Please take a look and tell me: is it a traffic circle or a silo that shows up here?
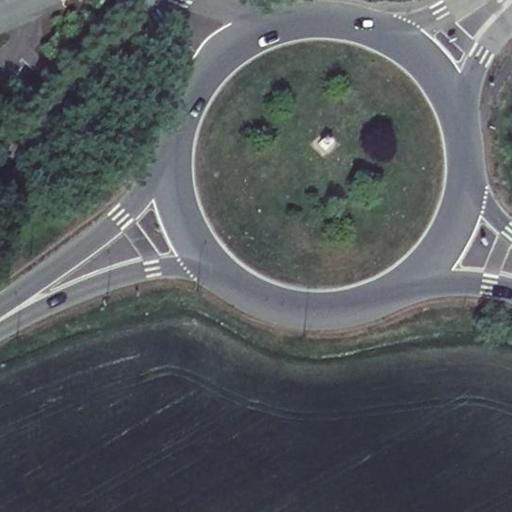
traffic circle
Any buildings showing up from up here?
No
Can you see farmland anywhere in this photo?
Yes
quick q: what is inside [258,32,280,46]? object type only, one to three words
car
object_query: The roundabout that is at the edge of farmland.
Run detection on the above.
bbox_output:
[144,2,487,328]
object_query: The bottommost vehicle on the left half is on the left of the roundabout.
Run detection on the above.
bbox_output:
[46,292,68,306]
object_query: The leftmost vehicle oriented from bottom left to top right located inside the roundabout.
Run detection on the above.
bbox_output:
[190,96,206,116]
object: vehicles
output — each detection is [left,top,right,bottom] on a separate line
[492,286,512,298]
[190,96,206,116]
[354,18,374,28]
[258,32,280,46]
[46,292,68,306]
